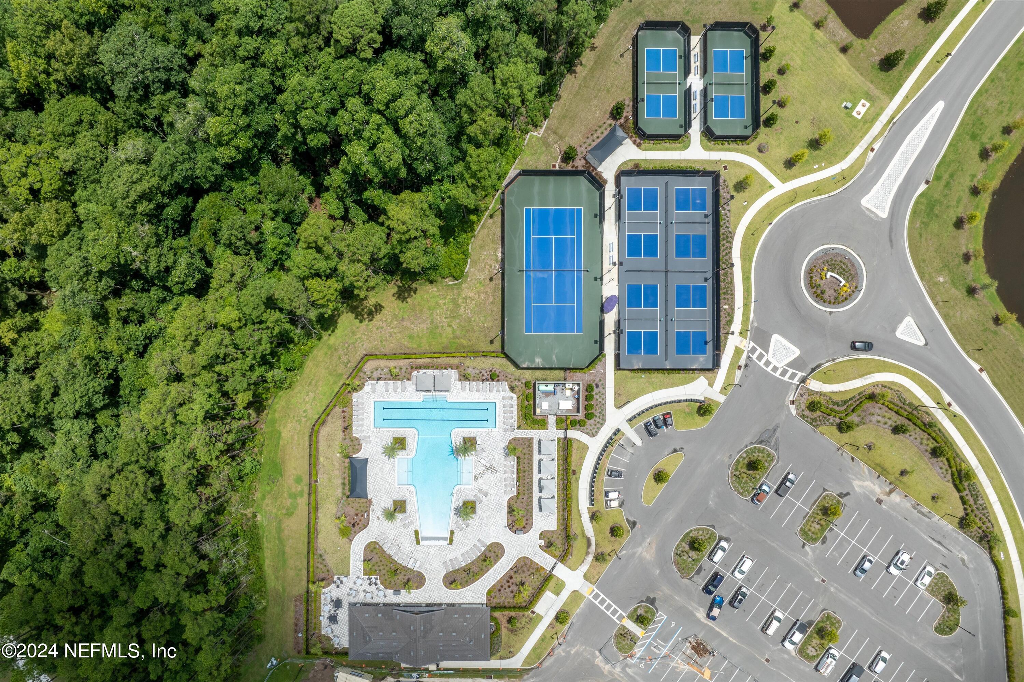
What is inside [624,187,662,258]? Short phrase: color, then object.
blue sports court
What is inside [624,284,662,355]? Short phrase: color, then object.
blue sports court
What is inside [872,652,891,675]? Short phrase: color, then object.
white car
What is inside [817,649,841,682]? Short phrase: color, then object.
white truck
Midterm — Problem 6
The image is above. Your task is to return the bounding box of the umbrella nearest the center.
[605,294,620,309]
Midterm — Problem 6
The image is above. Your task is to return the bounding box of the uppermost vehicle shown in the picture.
[851,340,875,352]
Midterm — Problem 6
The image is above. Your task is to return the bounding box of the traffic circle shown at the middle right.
[801,245,866,310]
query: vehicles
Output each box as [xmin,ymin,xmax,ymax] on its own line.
[733,556,755,581]
[855,555,876,579]
[646,423,661,440]
[730,587,751,612]
[710,541,730,566]
[916,566,937,591]
[709,596,724,623]
[653,416,666,431]
[872,652,891,675]
[765,612,786,637]
[664,415,675,430]
[753,483,772,506]
[851,340,875,352]
[887,550,911,578]
[777,471,801,501]
[817,649,841,682]
[846,662,871,682]
[609,470,625,480]
[607,491,622,500]
[705,572,726,598]
[785,622,810,651]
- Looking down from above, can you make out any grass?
Yes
